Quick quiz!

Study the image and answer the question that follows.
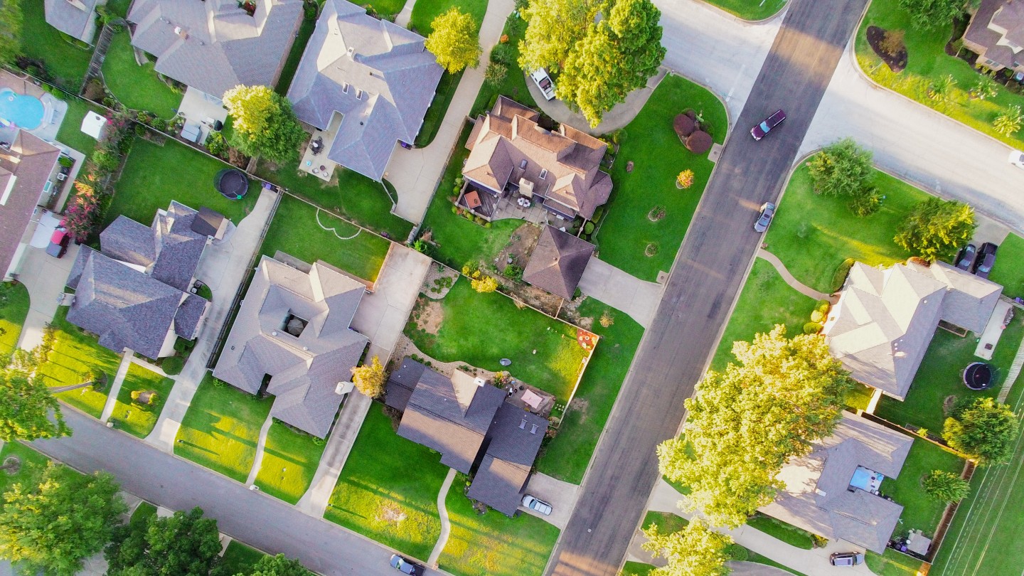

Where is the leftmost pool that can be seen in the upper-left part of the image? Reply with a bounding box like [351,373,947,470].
[0,86,52,131]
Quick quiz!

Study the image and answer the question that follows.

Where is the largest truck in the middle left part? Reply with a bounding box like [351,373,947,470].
[42,226,72,261]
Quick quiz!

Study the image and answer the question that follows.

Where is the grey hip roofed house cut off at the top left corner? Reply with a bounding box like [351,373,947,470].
[44,0,118,44]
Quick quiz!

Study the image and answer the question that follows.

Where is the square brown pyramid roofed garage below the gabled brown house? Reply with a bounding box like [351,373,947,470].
[522,224,596,301]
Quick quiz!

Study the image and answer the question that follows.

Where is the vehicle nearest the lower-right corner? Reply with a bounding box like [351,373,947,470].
[828,550,862,567]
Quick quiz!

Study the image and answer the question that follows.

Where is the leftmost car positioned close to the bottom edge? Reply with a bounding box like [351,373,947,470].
[391,553,425,576]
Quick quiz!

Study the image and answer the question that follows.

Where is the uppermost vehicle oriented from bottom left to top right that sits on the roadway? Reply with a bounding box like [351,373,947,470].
[750,109,786,140]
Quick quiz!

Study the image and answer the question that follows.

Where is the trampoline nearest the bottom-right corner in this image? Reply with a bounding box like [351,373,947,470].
[959,362,1000,391]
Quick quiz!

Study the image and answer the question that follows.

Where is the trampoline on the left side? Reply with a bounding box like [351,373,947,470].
[214,167,248,198]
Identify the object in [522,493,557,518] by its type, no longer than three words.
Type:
vehicle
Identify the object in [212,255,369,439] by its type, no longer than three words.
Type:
house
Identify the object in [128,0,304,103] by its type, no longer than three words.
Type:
house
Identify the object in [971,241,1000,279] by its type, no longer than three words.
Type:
truck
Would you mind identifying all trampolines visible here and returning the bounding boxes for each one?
[214,167,248,198]
[959,362,1000,391]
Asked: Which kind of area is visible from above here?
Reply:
residential area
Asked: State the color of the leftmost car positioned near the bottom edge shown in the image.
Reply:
blue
